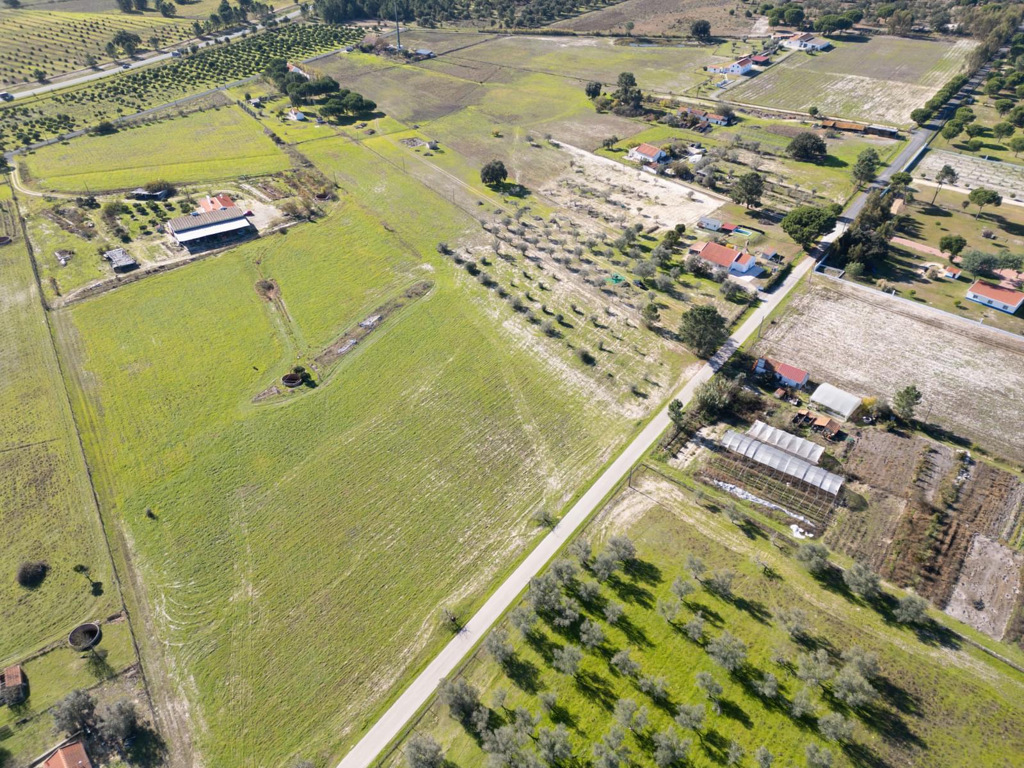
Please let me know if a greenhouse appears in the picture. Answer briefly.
Yes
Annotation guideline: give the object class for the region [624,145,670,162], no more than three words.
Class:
house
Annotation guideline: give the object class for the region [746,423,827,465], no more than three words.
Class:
greenhouse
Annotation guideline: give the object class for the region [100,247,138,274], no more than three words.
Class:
shed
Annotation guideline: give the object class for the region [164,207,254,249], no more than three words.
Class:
barn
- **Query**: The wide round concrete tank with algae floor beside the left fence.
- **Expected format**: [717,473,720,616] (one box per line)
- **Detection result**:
[66,622,103,651]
